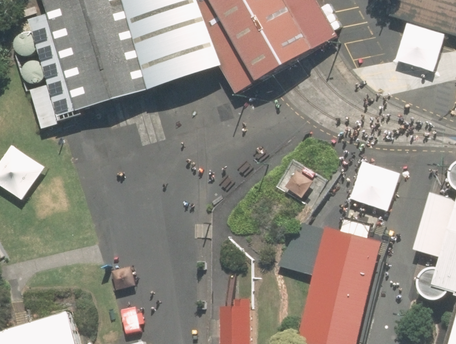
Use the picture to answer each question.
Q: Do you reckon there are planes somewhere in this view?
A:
No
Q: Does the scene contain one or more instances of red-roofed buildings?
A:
Yes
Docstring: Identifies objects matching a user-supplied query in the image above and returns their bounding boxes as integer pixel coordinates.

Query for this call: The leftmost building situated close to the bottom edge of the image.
[0,311,74,344]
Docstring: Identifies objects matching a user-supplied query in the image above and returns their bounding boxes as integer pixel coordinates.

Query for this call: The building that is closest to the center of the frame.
[285,170,315,198]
